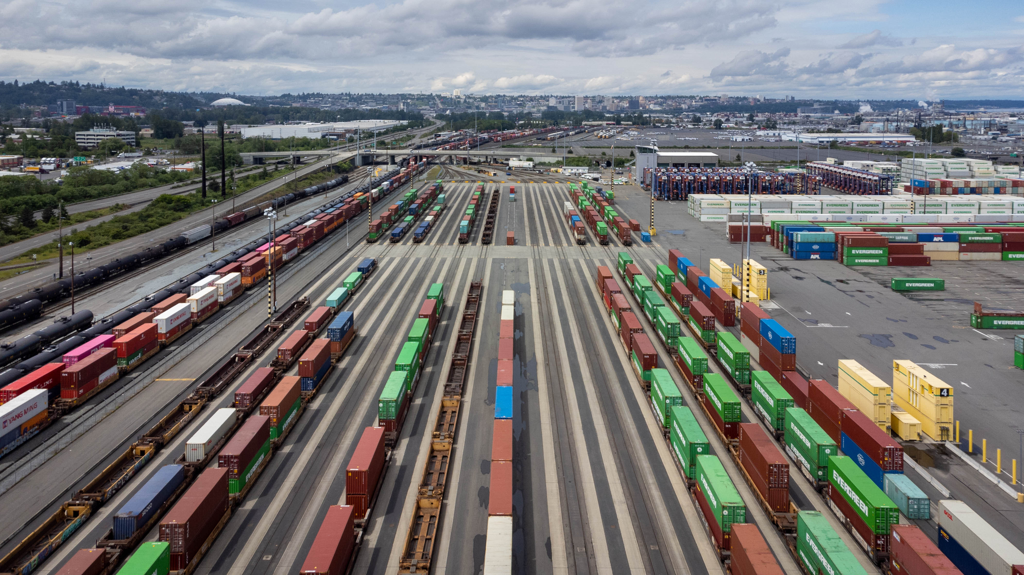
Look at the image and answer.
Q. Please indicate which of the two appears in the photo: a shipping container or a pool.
shipping container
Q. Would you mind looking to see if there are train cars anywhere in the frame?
Yes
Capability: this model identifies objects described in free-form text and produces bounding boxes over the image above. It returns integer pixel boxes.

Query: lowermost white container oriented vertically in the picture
[484,517,512,575]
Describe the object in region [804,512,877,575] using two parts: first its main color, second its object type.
green shipping container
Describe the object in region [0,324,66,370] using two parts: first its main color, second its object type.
black rail car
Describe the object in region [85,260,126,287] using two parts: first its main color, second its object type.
black rail car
